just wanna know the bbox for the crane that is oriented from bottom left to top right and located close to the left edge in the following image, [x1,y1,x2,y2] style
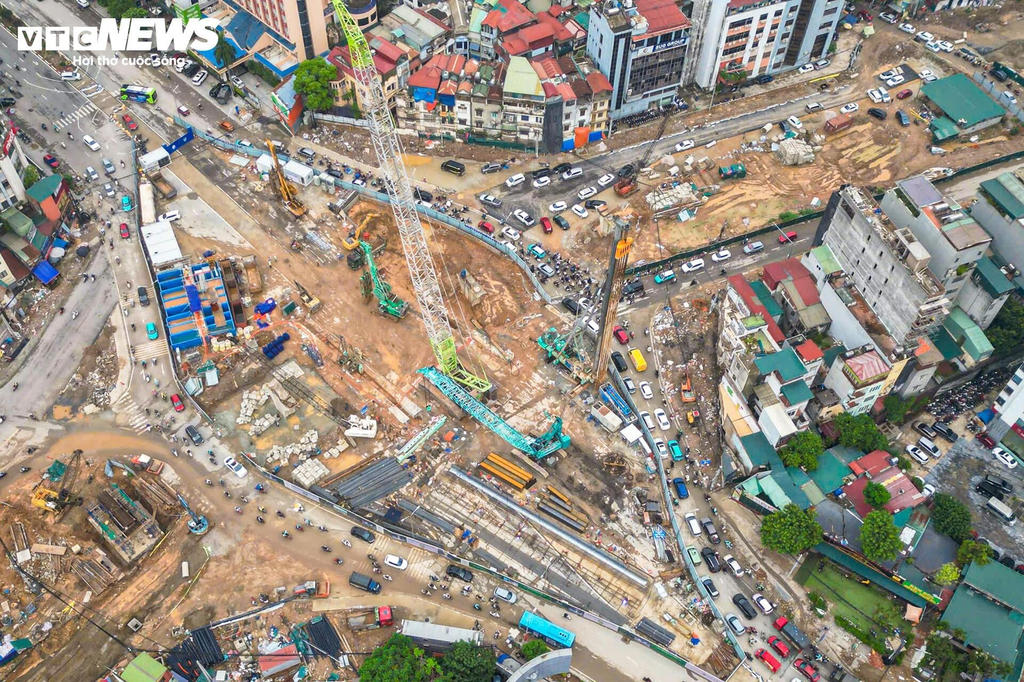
[28,449,93,514]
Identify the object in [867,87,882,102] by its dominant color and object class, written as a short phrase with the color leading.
white car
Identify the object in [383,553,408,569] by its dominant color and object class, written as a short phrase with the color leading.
white car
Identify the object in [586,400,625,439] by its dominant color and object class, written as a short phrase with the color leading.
white shipping container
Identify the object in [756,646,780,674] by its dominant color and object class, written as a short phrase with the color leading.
red vehicle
